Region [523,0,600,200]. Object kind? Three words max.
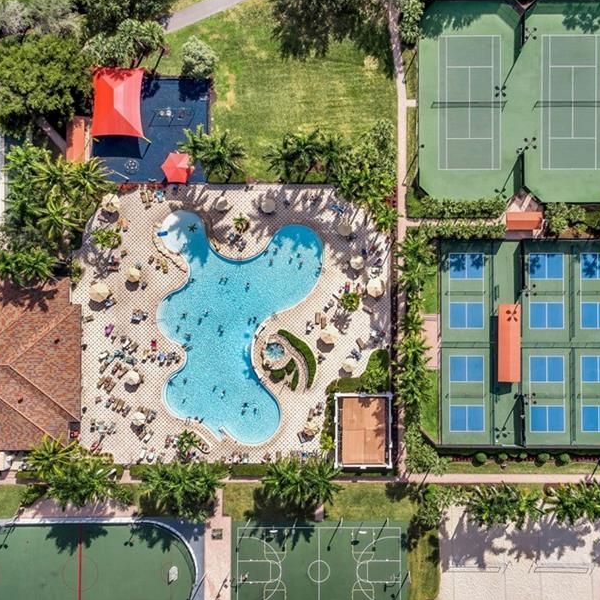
tennis court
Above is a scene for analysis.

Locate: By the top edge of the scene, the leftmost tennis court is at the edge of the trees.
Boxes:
[418,0,523,200]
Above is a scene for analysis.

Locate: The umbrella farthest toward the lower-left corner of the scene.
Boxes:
[132,410,147,425]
